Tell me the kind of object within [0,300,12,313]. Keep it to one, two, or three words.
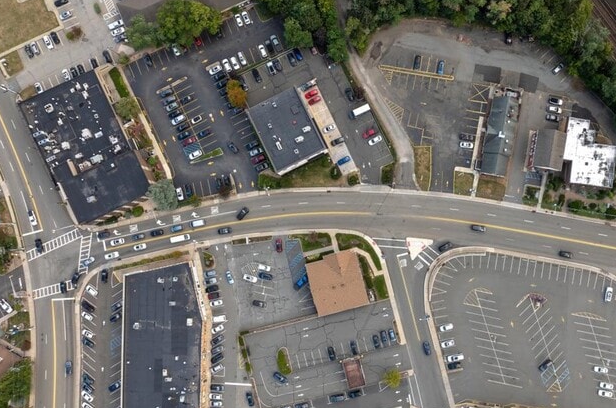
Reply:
vehicle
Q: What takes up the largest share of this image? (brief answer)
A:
paved ground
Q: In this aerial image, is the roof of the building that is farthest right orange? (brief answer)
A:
No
